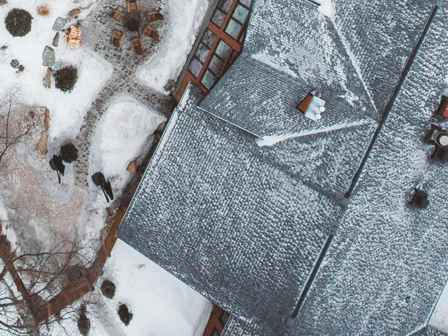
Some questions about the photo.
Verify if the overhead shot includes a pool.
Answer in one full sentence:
No, there is no pool in the image.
